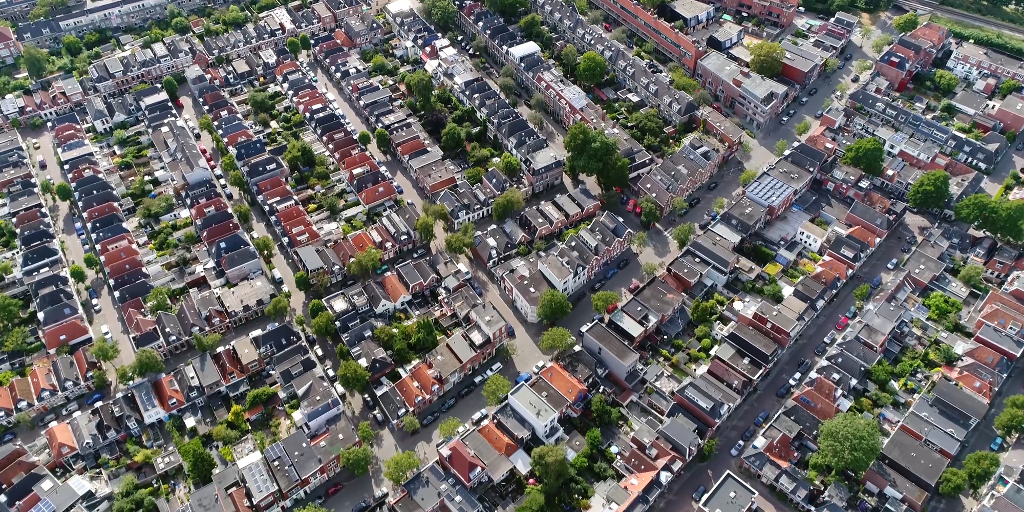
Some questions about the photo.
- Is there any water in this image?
No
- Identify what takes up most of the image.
buildings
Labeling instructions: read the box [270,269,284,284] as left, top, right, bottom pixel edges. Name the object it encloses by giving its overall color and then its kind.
white vehicle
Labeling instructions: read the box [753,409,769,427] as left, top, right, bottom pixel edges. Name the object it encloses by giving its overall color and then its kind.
blue car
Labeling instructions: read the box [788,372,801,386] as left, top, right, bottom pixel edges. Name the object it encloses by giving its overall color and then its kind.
white vehicle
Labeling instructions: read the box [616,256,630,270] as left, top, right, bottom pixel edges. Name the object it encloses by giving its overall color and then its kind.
black car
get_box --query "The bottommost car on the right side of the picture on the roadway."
[691,484,707,502]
